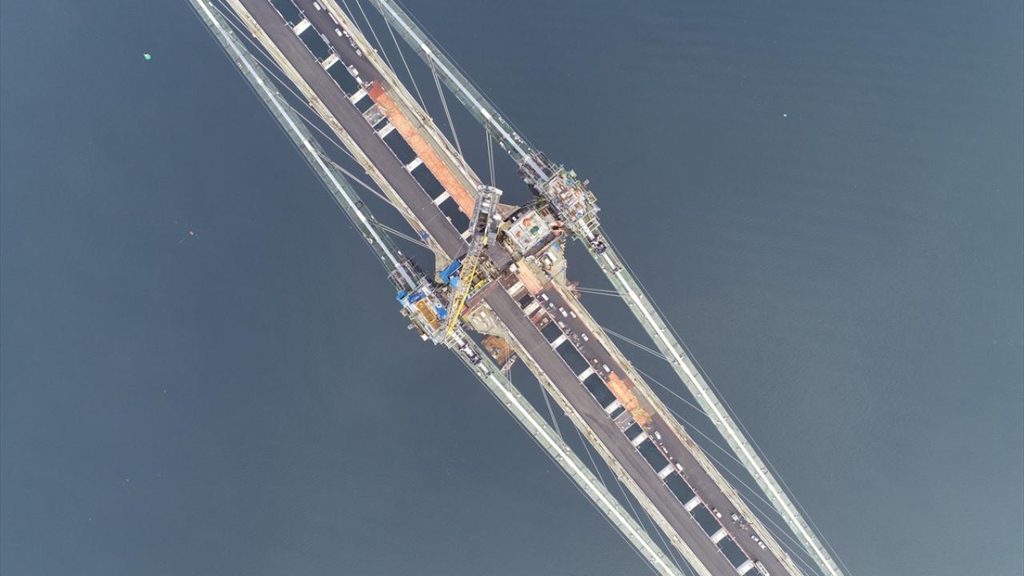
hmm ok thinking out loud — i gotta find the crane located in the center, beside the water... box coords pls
[447,187,504,336]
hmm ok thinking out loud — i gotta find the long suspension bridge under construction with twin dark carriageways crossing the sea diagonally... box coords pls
[199,0,840,576]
